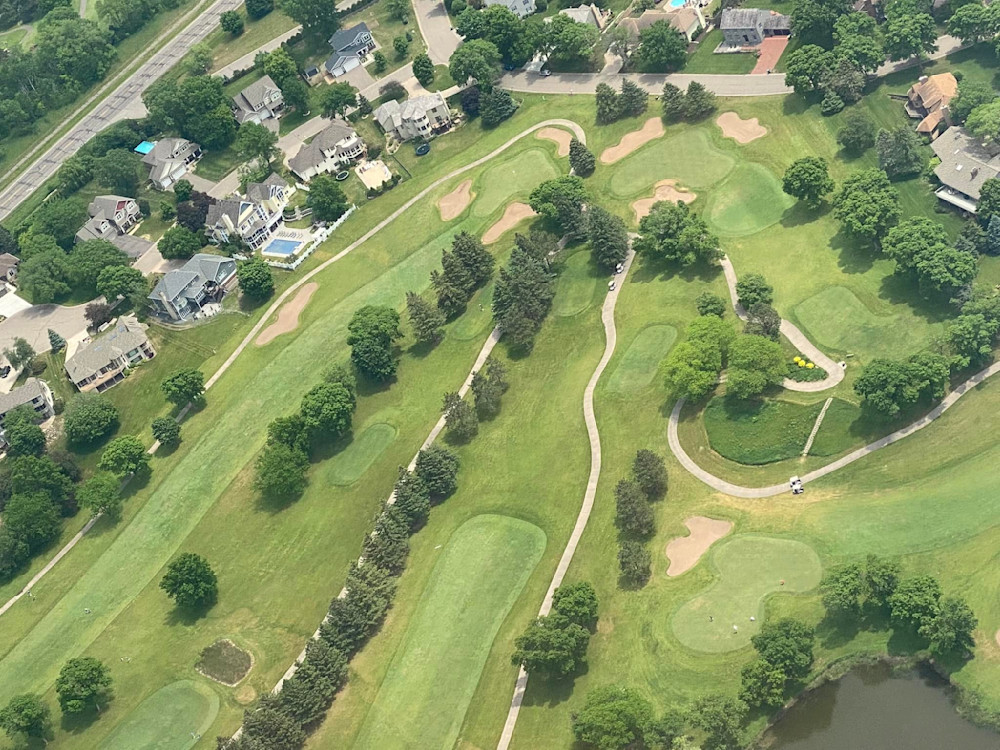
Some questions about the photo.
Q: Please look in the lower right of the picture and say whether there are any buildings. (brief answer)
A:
No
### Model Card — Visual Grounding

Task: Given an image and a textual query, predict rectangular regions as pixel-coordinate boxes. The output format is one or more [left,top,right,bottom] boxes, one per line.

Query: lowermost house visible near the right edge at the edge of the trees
[925,119,1000,219]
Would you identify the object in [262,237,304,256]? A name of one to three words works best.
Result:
swimming pool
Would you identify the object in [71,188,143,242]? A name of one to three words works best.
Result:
house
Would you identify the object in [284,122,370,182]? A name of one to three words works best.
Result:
house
